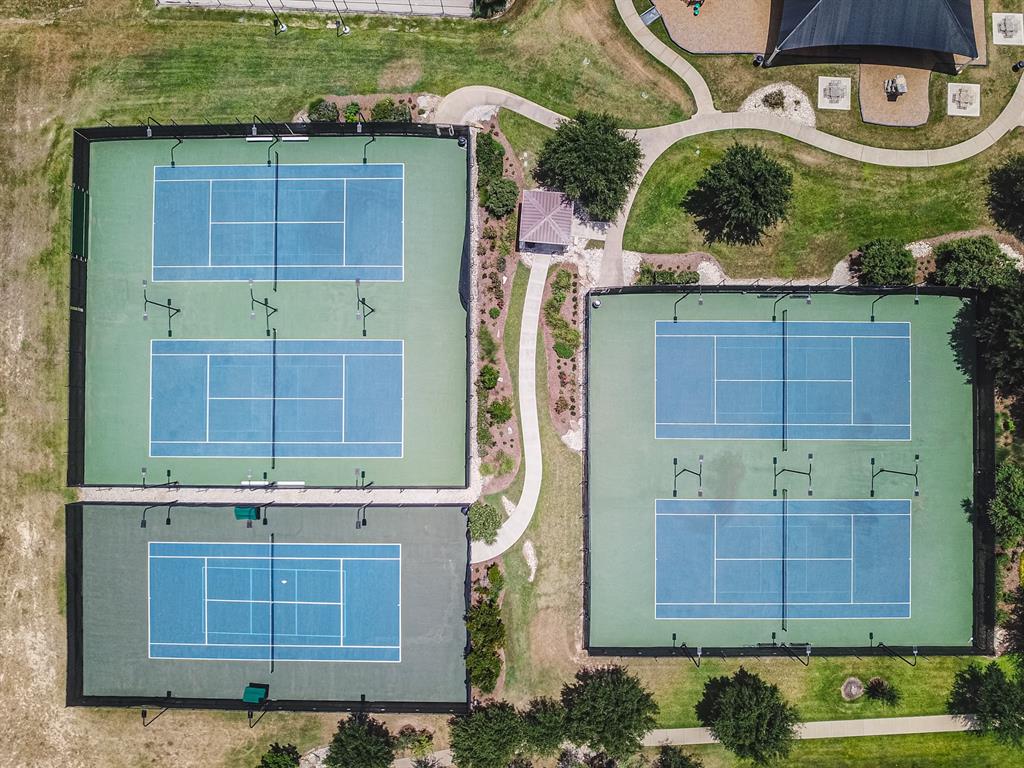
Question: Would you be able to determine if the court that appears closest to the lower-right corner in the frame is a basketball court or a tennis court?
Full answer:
The court that appears closest to the lower-right corner can be classified as a tennis court.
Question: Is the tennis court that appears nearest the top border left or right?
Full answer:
You can find the tennis court that appears nearest the top border on the left side of the picture.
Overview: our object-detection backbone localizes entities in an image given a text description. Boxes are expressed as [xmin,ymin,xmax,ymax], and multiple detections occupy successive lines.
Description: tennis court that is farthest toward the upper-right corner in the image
[655,321,912,440]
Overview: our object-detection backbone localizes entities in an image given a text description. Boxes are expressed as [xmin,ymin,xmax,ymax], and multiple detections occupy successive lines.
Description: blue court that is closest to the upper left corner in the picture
[152,163,404,281]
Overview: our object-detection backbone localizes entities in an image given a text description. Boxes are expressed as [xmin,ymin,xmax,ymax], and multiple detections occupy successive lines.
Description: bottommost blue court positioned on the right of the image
[655,500,912,619]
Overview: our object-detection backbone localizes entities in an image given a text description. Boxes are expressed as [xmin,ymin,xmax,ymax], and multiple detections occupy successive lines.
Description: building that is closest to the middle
[518,189,575,252]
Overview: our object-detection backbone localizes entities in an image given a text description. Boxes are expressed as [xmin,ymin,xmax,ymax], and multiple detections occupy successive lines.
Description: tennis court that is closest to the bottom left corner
[148,542,401,663]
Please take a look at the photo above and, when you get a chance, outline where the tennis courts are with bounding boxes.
[655,321,912,440]
[149,340,404,458]
[152,163,404,281]
[655,500,912,619]
[148,542,401,663]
